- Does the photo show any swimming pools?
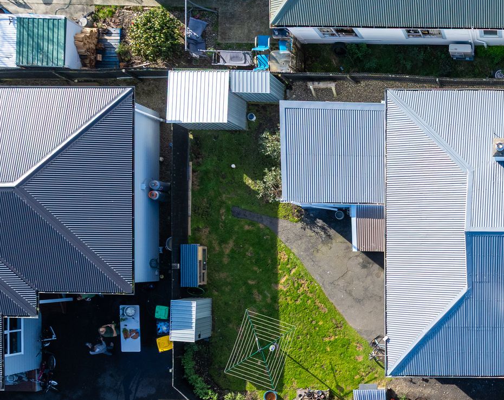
No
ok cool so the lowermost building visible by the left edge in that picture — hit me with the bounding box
[0,84,162,391]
